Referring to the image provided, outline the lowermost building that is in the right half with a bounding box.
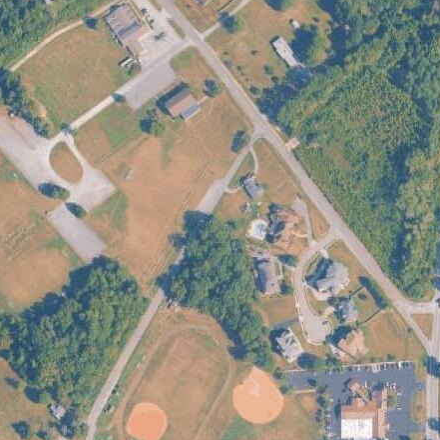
[340,377,388,440]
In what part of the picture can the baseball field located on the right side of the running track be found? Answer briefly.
bottom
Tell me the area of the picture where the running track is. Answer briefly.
bottom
